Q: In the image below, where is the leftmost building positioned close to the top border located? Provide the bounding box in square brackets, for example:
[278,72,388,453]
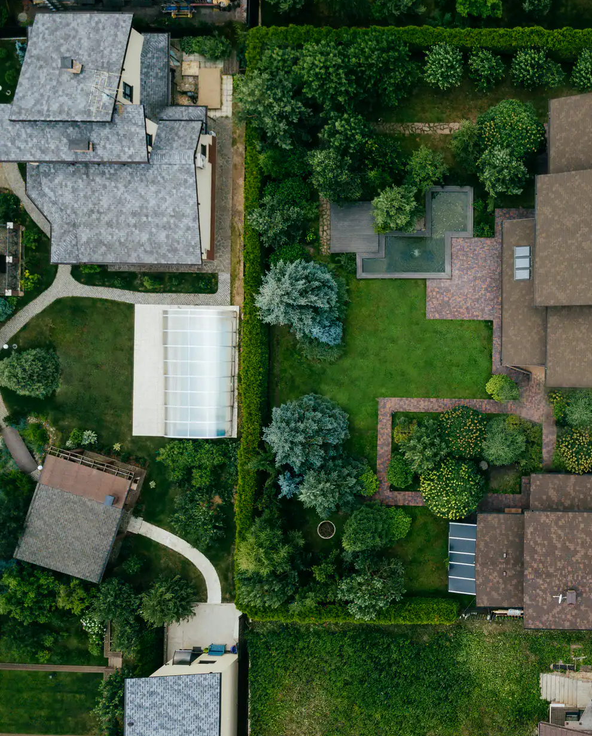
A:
[0,12,220,266]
